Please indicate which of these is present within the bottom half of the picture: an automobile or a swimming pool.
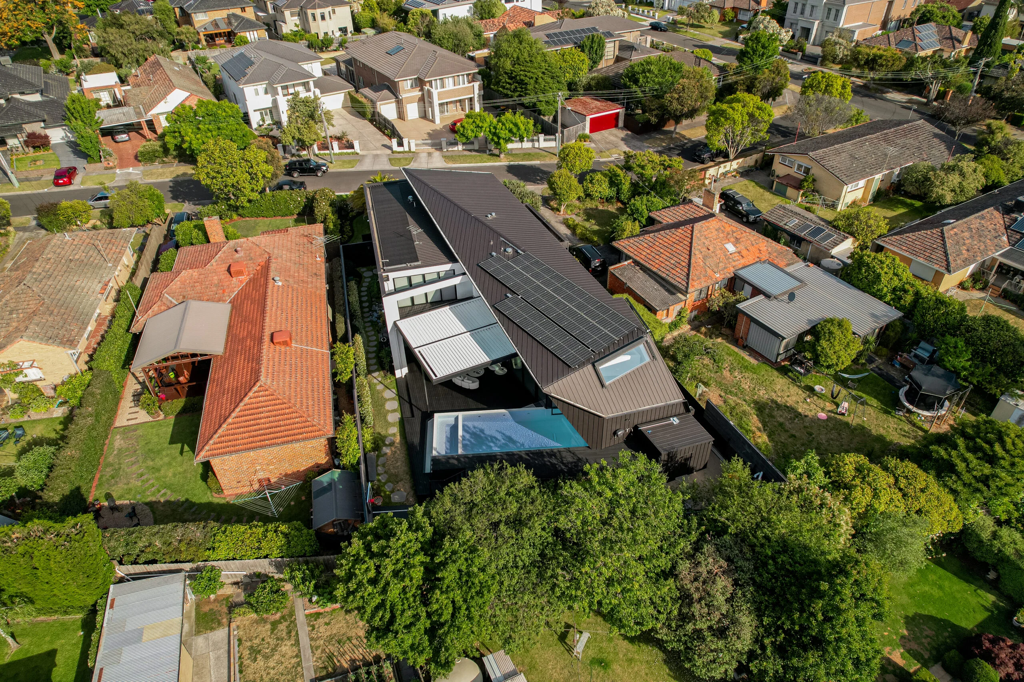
swimming pool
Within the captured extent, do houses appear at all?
Yes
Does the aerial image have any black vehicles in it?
Yes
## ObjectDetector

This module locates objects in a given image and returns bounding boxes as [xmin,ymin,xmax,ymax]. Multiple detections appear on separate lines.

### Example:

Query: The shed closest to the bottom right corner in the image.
[982,398,1024,452]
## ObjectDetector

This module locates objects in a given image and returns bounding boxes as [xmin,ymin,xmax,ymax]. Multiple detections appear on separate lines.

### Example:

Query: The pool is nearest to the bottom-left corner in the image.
[425,401,591,493]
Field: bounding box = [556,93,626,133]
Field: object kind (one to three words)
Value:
building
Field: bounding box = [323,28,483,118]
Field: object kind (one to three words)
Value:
house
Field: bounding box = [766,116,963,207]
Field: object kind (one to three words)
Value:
house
